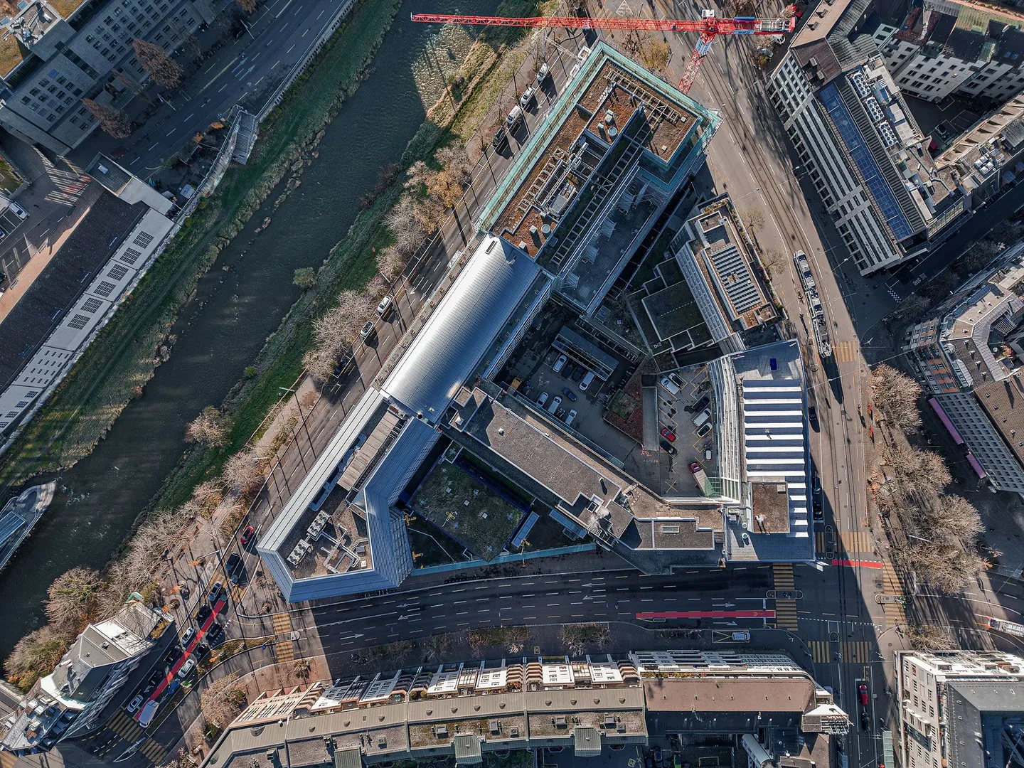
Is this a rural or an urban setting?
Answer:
urban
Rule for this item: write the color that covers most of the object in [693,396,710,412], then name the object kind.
black car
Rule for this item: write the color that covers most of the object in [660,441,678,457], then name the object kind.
black car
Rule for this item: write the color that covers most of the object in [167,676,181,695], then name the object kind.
blue car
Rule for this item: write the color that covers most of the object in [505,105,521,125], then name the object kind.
white vehicle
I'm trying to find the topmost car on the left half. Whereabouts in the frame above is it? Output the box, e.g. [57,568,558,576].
[231,25,247,41]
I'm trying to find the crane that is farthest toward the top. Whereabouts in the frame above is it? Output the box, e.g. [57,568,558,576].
[410,6,796,94]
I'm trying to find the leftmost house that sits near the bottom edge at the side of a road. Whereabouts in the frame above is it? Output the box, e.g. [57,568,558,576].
[1,584,190,752]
